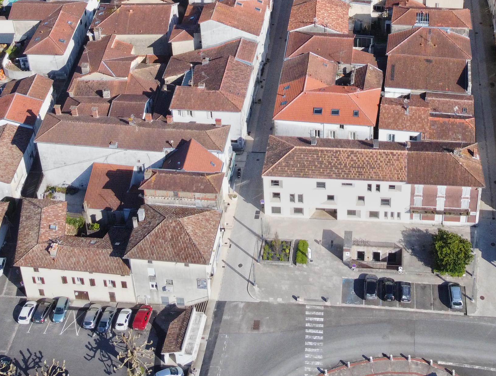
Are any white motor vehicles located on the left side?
Yes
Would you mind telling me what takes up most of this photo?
buildings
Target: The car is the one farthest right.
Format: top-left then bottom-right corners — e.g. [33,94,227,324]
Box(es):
[448,282,463,308]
